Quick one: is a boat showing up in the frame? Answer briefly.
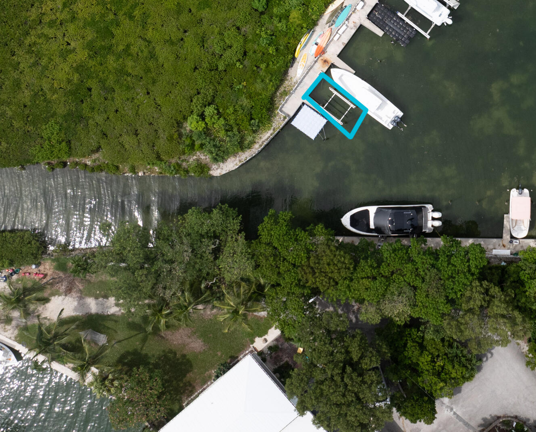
Yes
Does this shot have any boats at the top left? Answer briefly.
No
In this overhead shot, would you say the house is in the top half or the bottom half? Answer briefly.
bottom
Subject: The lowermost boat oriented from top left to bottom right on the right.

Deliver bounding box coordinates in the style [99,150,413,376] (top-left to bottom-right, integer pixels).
[331,68,411,136]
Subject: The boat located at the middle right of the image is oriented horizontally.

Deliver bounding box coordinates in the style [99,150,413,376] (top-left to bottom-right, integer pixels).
[341,204,442,234]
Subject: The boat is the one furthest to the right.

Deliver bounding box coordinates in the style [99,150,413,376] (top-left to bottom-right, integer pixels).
[510,179,530,238]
